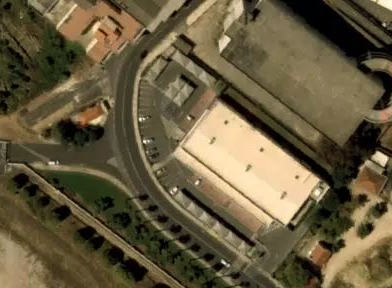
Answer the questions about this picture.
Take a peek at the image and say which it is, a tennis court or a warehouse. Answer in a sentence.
Of the two, only a warehouse appears.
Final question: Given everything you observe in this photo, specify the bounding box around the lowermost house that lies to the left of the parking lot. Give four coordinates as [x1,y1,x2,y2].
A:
[75,101,104,124]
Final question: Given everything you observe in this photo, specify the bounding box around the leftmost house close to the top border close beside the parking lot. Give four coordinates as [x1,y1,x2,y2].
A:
[56,0,145,62]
